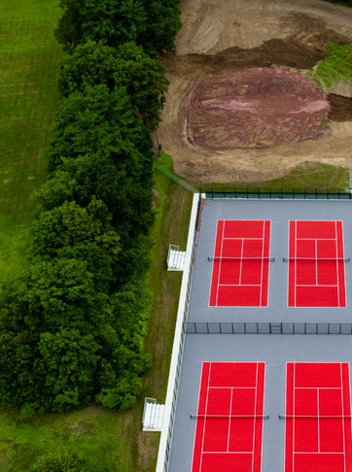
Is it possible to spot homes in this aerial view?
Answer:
No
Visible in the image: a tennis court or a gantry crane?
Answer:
tennis court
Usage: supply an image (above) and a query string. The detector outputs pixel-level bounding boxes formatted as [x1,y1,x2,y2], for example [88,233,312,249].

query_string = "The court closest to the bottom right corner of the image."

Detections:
[284,363,352,472]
